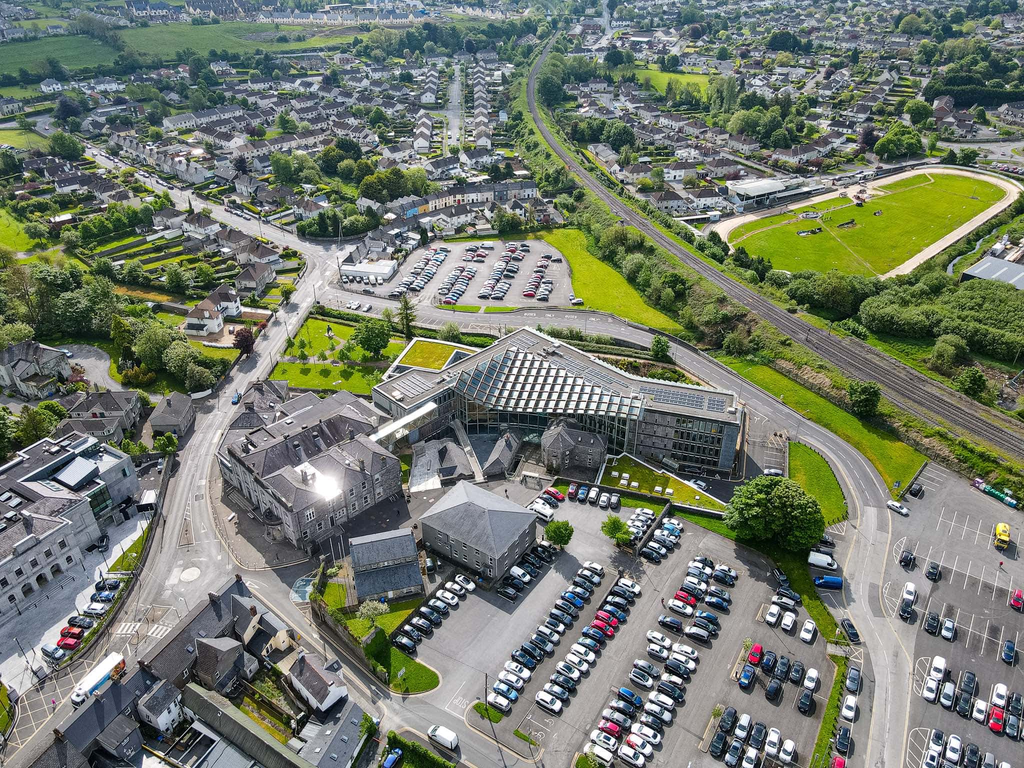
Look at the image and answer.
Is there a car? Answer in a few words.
Yes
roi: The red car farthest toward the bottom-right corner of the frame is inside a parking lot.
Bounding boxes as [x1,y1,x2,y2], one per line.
[987,706,1005,734]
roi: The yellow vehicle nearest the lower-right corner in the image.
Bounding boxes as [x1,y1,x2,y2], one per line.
[992,525,1009,549]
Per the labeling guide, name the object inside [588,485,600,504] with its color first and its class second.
white vehicle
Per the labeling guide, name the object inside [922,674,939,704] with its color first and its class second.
white car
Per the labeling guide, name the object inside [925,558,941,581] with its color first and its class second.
gray car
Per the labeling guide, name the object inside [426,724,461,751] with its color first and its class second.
white vehicle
